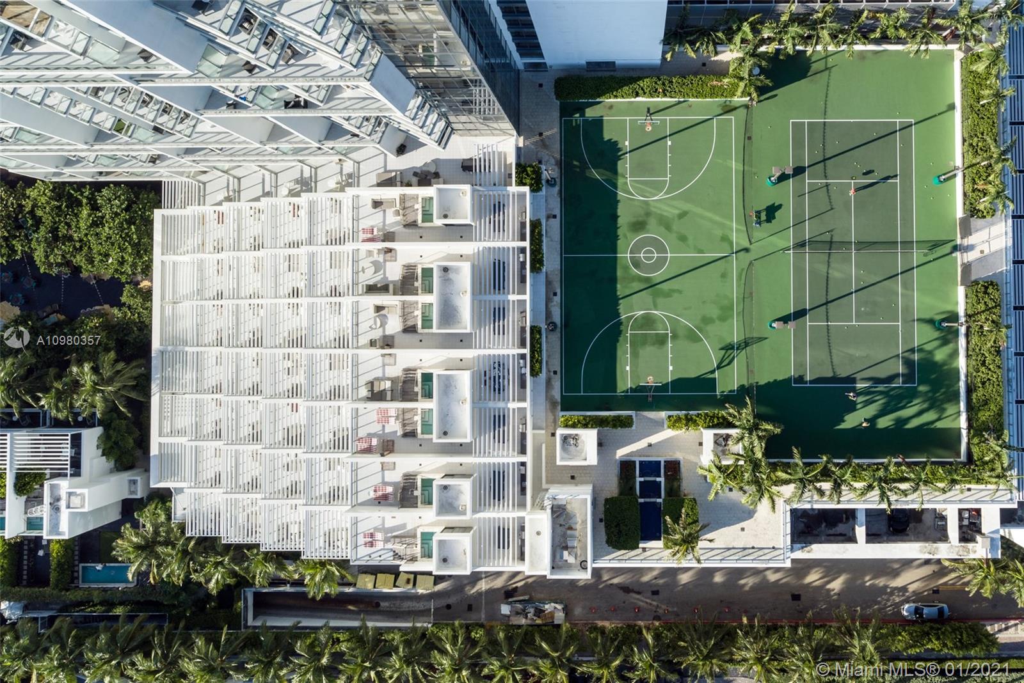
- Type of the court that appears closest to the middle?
basketball court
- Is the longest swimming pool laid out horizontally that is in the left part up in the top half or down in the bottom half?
bottom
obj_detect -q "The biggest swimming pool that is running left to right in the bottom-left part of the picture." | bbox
[79,565,136,586]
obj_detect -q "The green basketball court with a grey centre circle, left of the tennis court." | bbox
[561,101,749,413]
